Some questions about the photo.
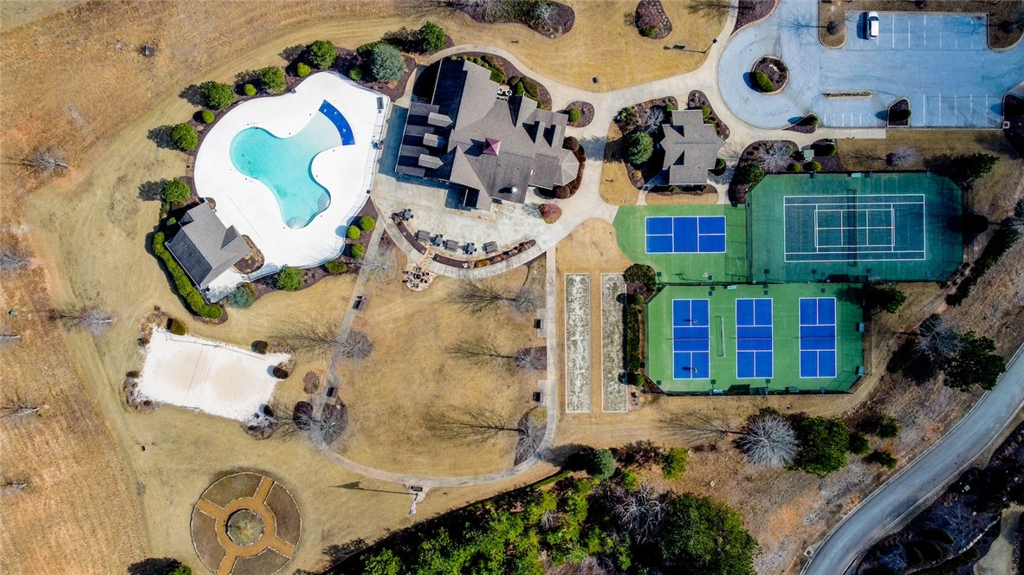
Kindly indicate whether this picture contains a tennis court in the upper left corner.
No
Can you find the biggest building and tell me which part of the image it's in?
top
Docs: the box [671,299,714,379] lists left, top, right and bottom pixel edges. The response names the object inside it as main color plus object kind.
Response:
blue sports court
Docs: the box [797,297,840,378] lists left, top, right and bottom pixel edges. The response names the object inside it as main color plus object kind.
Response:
blue sports court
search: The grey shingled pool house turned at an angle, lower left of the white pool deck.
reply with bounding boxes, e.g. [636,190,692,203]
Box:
[165,202,256,289]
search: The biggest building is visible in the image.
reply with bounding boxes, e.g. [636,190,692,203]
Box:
[395,59,579,211]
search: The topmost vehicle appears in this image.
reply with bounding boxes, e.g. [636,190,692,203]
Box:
[867,9,883,38]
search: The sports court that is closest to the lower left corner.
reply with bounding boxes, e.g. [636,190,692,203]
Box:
[136,325,291,421]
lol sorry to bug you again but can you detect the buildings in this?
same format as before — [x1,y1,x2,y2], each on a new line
[165,202,256,289]
[395,59,579,211]
[659,110,726,187]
